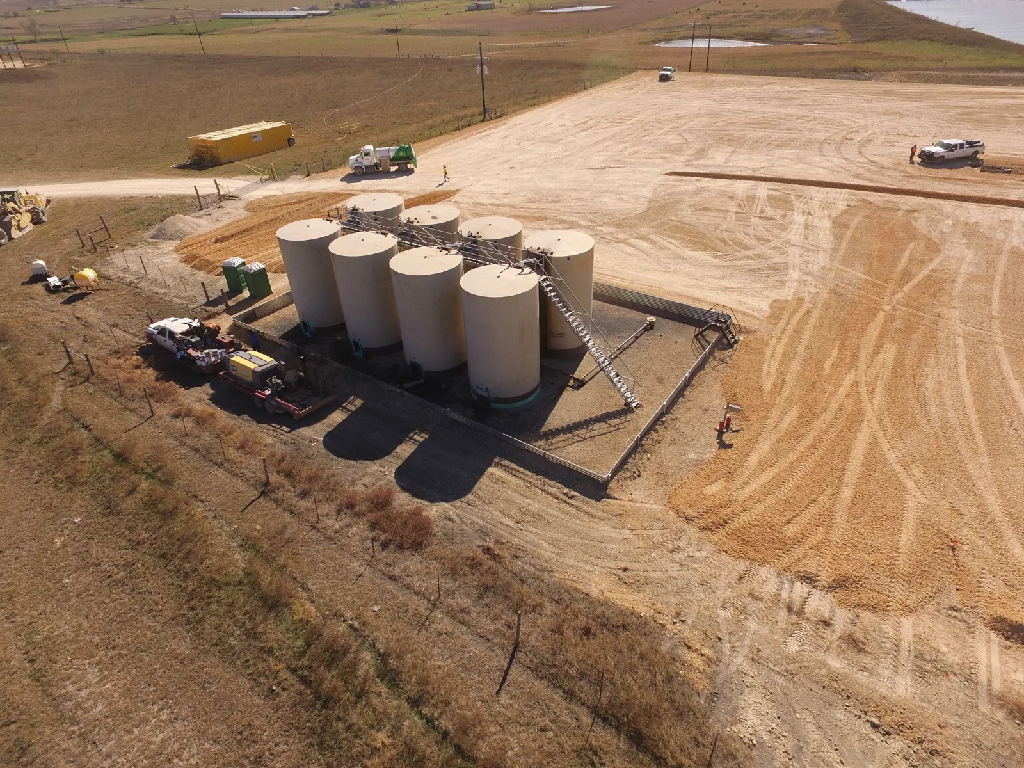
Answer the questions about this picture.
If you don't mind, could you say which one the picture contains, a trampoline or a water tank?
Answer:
water tank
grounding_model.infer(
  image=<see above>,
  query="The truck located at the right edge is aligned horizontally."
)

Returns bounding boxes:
[916,137,987,164]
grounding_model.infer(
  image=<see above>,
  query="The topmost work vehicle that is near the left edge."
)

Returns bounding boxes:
[0,191,53,250]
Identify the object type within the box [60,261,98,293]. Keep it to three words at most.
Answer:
storage tank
